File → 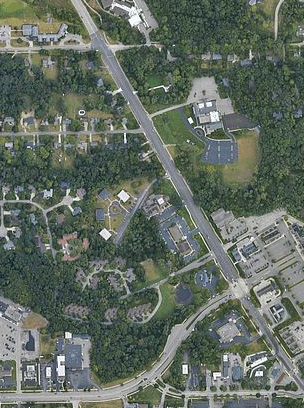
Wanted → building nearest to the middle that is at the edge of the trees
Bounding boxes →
[144,190,167,218]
